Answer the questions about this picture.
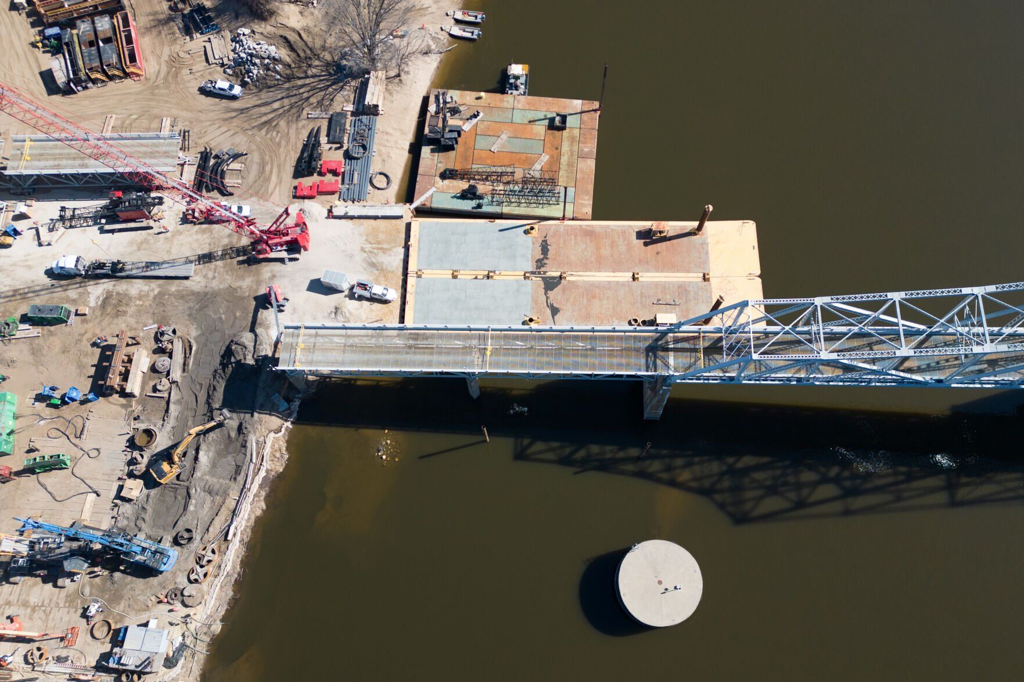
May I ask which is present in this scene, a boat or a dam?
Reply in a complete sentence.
I can see a boat in this picture.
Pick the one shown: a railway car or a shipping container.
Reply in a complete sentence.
Of the two, only a shipping container appears.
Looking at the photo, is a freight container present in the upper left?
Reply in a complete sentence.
Yes, you'll find a freight container in the upper left.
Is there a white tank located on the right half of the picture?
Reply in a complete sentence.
No, no white tank is visible on the right half of the picture.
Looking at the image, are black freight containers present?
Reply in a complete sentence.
Yes, looking at the shot, I can spot a black freight container.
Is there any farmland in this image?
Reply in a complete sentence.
No, the scene doesn't show any farmland.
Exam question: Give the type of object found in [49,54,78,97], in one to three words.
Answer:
storage tank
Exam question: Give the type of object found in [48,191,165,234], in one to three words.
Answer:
crane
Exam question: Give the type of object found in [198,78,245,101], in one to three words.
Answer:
truck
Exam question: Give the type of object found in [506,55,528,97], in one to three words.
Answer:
boat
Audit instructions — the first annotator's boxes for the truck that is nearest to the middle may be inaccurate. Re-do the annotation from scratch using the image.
[348,276,401,304]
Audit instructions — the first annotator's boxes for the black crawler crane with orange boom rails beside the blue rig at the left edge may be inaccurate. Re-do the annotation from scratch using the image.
[0,520,100,585]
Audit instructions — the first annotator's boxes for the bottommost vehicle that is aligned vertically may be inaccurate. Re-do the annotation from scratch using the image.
[266,284,287,352]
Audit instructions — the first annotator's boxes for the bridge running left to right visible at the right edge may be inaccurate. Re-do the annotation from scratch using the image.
[666,282,1024,392]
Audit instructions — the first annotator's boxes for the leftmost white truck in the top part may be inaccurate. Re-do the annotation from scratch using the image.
[50,254,87,276]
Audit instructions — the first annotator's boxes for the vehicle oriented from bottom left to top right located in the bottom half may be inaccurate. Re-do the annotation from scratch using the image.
[150,410,237,485]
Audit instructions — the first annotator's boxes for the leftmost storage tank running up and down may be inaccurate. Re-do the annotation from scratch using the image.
[0,392,28,457]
